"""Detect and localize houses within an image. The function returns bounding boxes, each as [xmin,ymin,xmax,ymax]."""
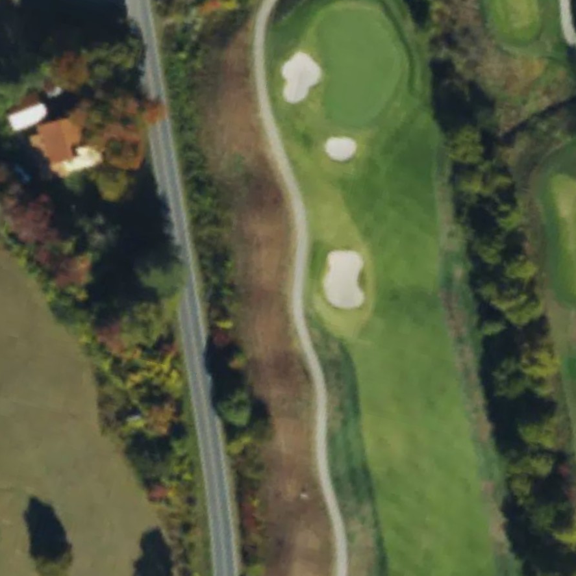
[29,117,87,175]
[8,99,48,131]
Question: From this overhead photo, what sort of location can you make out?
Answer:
golf course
